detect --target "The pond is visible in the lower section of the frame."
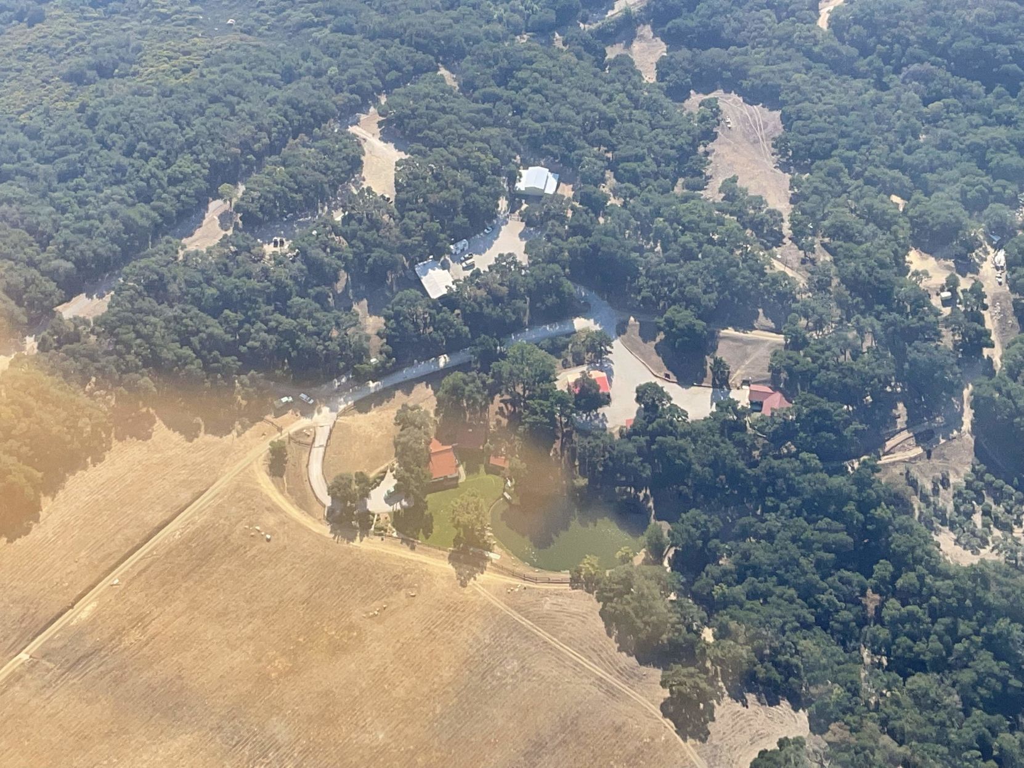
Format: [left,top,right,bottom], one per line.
[490,486,650,572]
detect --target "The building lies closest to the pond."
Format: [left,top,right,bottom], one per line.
[486,454,512,475]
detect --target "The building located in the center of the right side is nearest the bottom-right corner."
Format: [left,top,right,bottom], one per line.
[744,385,796,420]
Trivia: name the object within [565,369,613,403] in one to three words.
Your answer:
house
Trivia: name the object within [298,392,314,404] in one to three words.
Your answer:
vehicle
